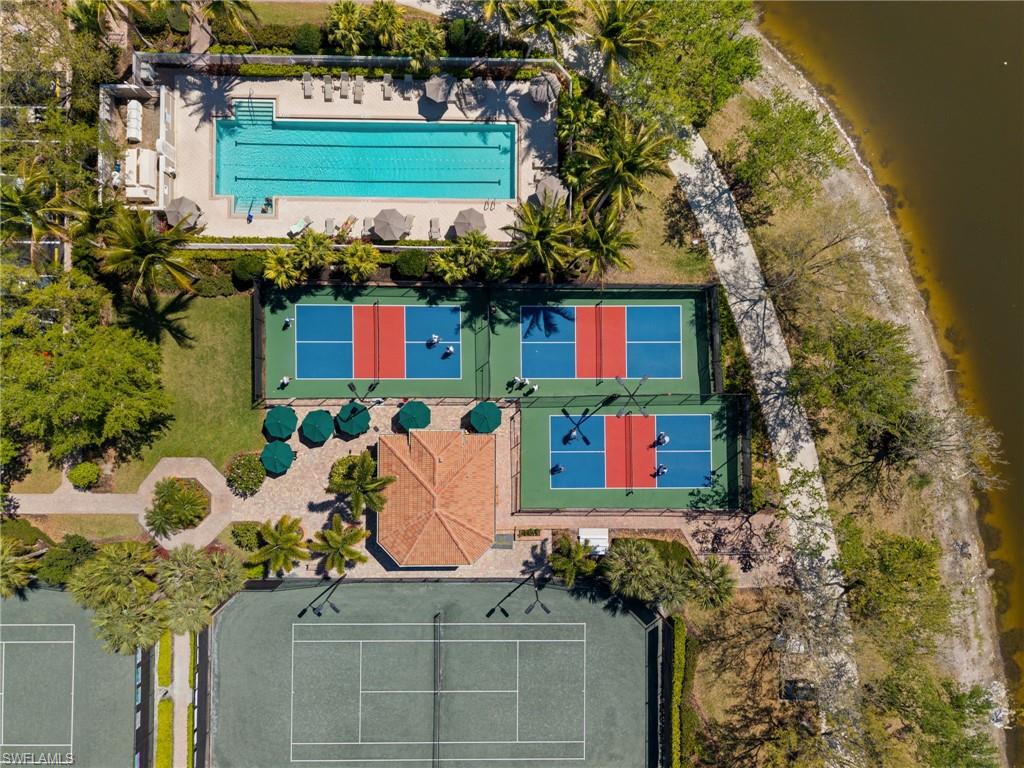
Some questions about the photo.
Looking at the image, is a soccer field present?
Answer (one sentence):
No, there is no soccer field in the image.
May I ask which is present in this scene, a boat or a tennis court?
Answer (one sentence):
There is a tennis court in the scene.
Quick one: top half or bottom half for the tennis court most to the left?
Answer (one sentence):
It is in the bottom half that the tennis court most to the left appears.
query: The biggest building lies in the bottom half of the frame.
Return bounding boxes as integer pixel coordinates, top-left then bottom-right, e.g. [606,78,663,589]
[376,427,497,567]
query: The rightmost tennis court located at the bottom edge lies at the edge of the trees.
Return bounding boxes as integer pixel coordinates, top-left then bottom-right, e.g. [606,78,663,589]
[207,580,659,768]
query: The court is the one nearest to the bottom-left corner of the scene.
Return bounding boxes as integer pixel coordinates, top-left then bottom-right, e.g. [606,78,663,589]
[0,588,150,768]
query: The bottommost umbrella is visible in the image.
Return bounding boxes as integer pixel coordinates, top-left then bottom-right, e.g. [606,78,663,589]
[262,441,296,475]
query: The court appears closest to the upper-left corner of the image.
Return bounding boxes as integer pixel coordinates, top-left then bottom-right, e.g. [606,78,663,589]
[263,288,489,398]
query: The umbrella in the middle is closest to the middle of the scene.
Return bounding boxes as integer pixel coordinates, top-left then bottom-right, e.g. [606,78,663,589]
[469,400,502,433]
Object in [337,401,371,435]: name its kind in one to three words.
umbrella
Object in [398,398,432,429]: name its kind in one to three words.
umbrella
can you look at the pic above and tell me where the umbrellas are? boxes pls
[423,75,458,113]
[266,407,299,439]
[532,173,568,209]
[302,410,336,444]
[337,401,371,435]
[469,400,502,433]
[398,398,432,429]
[373,207,410,243]
[451,205,486,238]
[167,195,202,230]
[262,441,296,475]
